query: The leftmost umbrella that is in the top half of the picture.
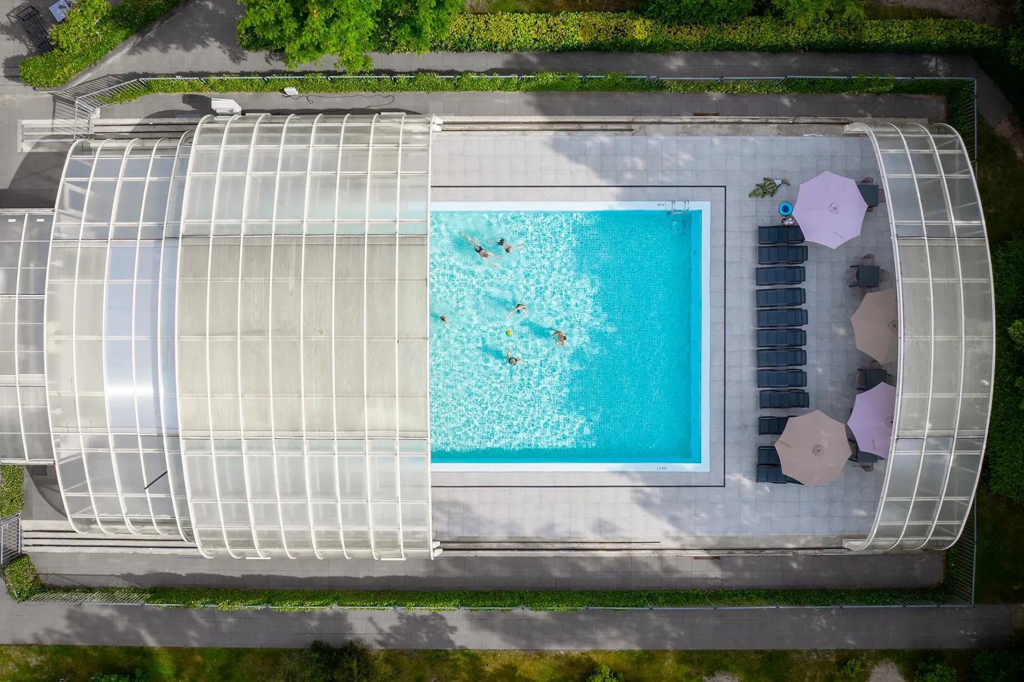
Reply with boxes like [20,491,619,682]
[792,171,869,248]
